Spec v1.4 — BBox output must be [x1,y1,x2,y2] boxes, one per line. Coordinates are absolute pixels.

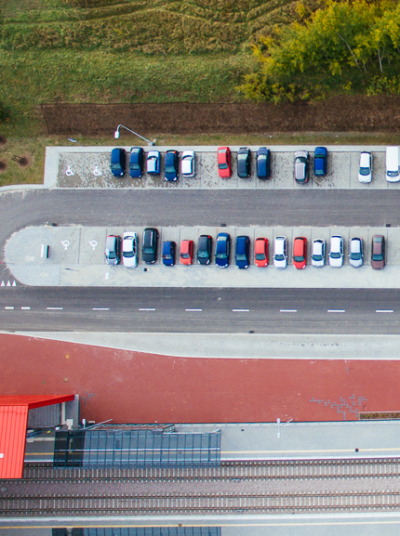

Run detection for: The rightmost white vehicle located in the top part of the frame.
[385,145,400,183]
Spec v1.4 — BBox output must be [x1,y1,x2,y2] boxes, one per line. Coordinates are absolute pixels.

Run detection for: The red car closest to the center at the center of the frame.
[178,240,195,265]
